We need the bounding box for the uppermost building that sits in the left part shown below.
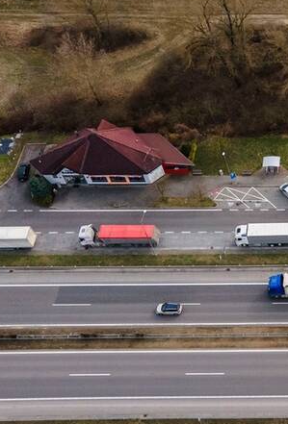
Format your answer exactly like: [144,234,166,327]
[30,120,196,184]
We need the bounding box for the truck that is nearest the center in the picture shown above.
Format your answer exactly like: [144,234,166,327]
[77,224,159,248]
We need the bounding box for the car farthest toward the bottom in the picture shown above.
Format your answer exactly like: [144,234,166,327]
[154,302,182,316]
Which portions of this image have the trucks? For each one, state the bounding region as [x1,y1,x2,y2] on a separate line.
[0,224,39,249]
[232,221,288,246]
[267,272,288,297]
[77,224,159,248]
